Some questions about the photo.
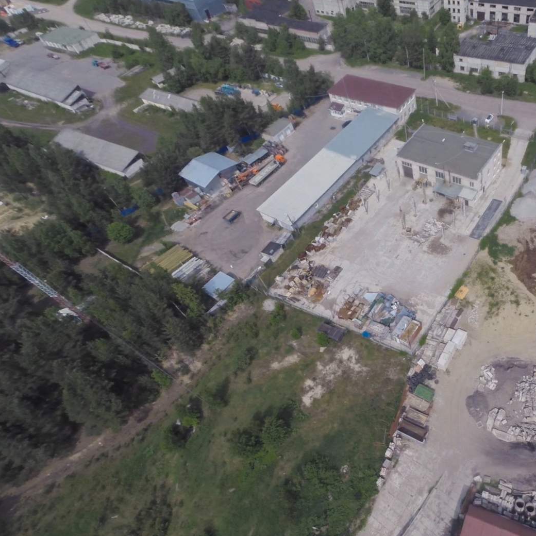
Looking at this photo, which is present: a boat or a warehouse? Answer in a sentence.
Looking from above, you can make out a warehouse.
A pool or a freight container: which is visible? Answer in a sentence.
The image shows a freight container.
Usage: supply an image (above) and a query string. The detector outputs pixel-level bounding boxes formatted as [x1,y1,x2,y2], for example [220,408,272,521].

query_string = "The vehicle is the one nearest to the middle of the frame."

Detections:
[221,209,242,227]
